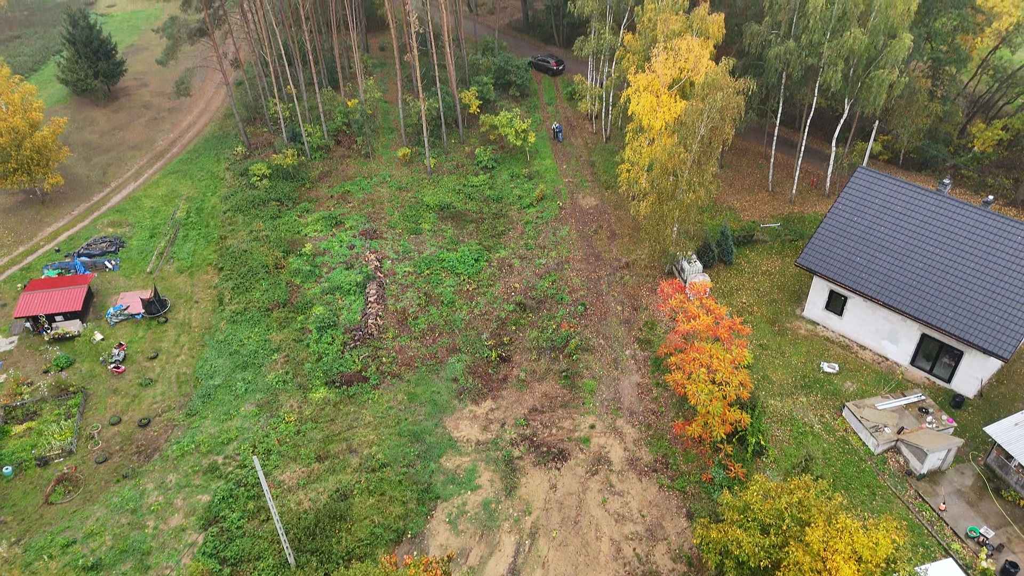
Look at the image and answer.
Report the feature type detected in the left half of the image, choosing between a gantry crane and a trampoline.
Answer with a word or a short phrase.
trampoline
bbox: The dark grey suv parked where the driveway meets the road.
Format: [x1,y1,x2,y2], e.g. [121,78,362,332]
[534,54,568,73]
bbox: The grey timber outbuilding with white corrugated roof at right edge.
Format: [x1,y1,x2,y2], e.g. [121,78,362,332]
[985,411,1024,493]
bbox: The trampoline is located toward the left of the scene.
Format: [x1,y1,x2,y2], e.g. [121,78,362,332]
[137,275,172,311]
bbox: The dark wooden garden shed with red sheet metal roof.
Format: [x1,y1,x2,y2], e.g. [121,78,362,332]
[12,273,106,342]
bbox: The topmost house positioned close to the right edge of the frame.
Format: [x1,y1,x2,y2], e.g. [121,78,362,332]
[793,167,1024,399]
